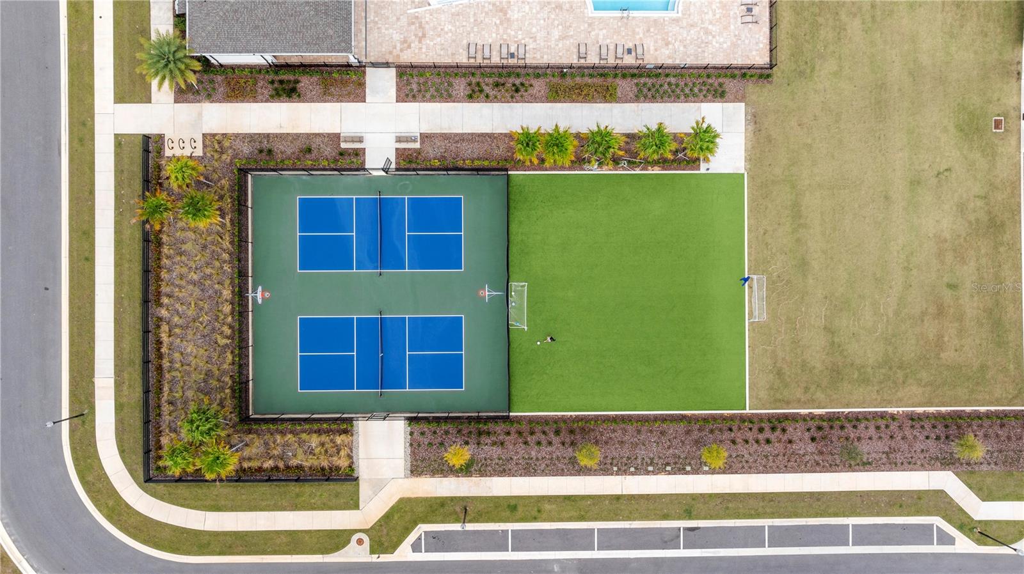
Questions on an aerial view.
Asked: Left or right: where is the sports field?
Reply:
right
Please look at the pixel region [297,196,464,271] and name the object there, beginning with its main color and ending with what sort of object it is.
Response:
blue sports court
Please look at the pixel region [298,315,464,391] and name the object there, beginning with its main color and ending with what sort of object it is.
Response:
blue sports court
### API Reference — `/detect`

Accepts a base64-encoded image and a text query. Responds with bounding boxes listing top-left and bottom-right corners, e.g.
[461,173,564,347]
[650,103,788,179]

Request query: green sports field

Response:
[511,171,1024,415]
